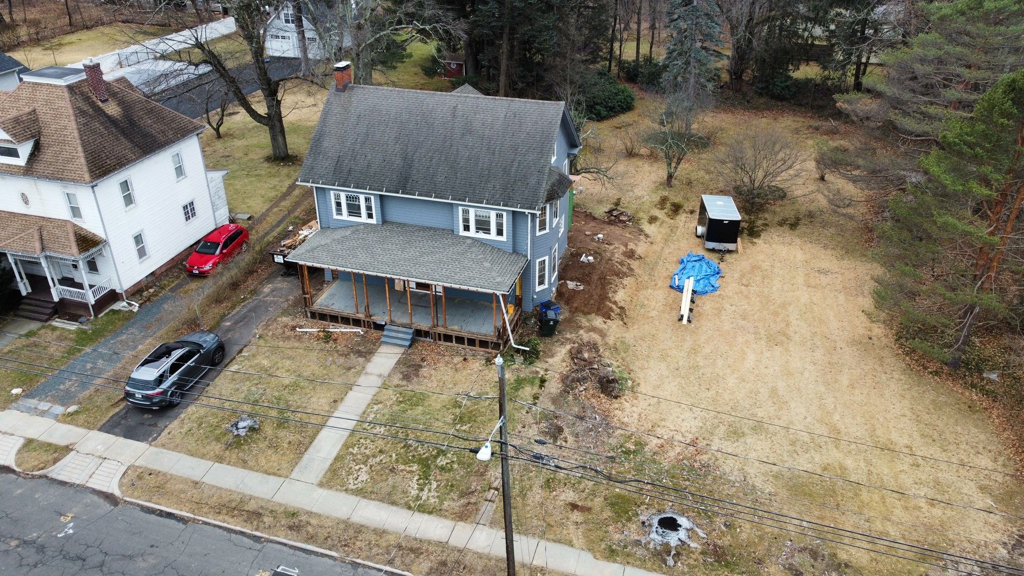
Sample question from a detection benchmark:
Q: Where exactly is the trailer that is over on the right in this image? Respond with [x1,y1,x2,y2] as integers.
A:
[699,196,743,264]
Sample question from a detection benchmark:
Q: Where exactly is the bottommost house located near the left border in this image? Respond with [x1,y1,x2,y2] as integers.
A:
[0,55,237,321]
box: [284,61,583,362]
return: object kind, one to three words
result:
house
